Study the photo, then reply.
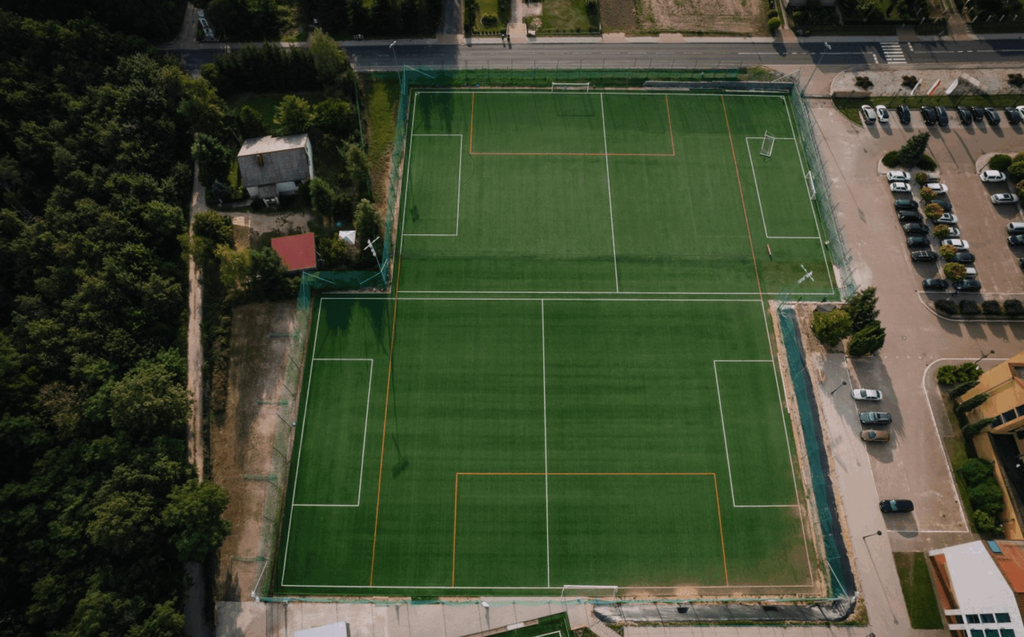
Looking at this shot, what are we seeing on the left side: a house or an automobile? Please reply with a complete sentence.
It is a house that can be seen on the left side.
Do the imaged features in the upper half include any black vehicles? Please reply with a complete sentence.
Yes, a black vehicle appears in the upper half.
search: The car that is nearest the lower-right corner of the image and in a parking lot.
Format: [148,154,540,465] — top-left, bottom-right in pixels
[879,498,913,513]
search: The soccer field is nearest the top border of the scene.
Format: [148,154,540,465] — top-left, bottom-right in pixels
[389,88,840,301]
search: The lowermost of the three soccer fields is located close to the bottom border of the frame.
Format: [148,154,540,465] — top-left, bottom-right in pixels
[476,612,573,637]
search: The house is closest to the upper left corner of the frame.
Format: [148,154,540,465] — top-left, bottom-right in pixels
[242,134,312,212]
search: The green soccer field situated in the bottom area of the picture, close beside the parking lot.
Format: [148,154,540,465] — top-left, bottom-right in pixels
[270,293,822,596]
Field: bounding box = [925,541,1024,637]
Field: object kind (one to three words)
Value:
building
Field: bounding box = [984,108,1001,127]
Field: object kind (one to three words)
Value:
car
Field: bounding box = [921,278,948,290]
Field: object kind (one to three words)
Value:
vehicle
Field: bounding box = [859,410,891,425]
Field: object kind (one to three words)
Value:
car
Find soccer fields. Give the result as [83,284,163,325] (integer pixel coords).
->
[476,612,573,637]
[389,88,840,301]
[270,293,822,596]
